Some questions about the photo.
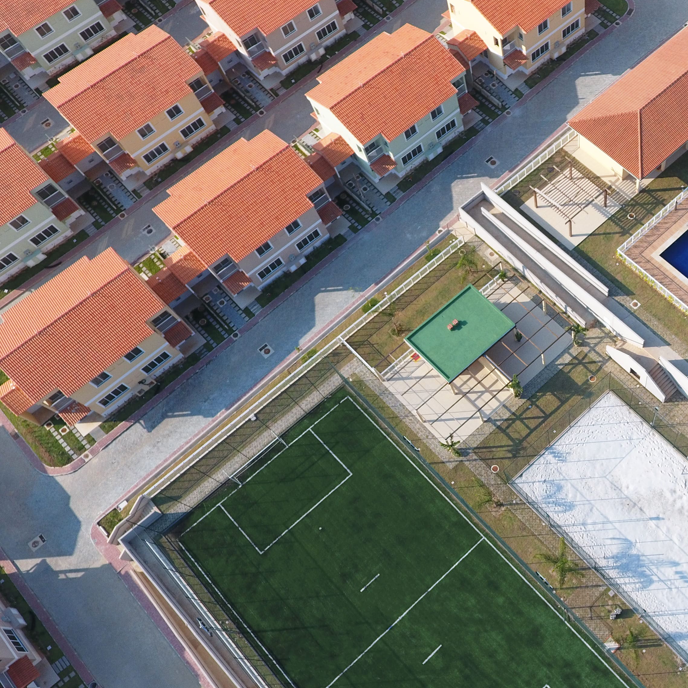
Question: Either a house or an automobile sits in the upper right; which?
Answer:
house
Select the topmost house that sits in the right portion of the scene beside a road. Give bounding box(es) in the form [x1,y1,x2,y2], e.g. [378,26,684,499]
[440,0,608,94]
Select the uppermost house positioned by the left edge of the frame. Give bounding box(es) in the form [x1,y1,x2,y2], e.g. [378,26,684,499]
[0,0,140,92]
